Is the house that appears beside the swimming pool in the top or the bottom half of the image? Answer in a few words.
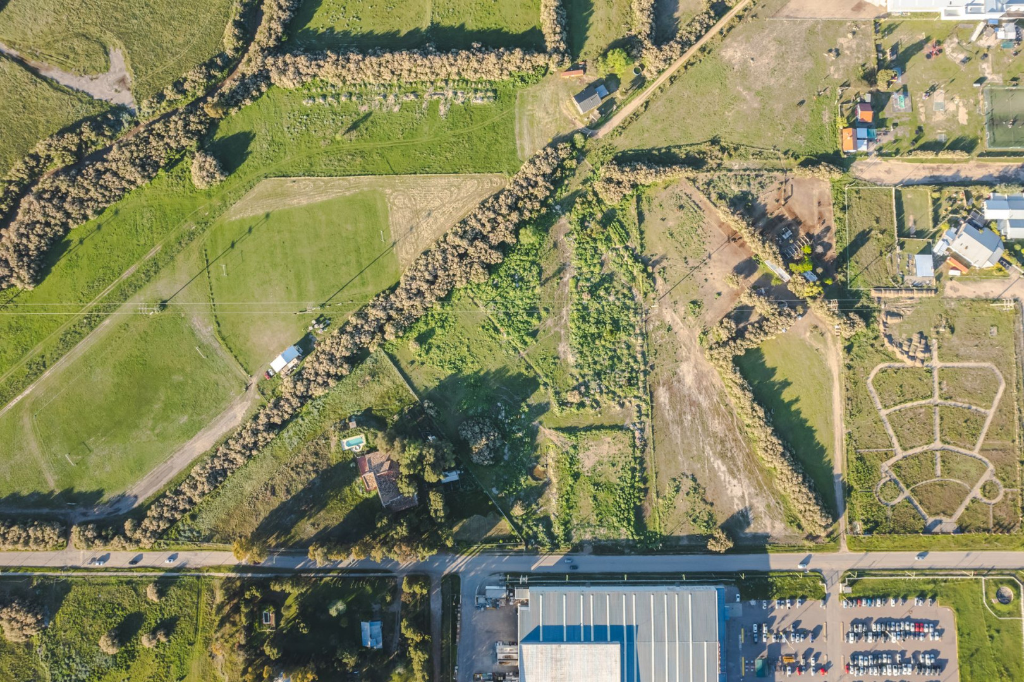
bottom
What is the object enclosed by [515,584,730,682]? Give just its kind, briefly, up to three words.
building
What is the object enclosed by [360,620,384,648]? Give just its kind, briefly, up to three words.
house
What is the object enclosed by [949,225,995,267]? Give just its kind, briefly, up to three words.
house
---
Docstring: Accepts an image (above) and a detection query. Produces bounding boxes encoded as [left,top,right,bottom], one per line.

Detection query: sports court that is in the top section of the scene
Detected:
[986,86,1024,148]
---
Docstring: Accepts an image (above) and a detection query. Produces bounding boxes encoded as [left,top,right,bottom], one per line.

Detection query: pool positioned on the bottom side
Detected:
[340,436,364,453]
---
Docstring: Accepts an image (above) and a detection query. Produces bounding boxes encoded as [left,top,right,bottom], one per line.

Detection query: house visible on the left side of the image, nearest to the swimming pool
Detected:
[357,449,418,512]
